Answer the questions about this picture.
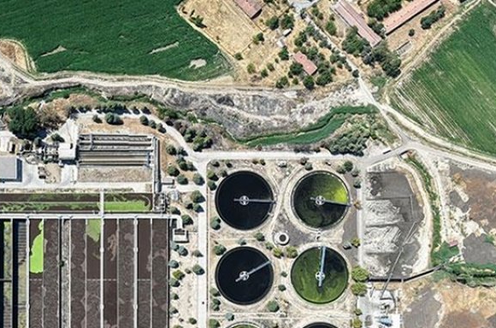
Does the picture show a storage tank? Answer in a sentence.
Yes, the picture does show a storage tank.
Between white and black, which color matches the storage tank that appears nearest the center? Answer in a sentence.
In this view, the storage tank that appears nearest the center is black.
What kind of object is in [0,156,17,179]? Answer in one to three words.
building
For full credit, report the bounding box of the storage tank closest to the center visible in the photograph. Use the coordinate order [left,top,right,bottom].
[215,171,278,230]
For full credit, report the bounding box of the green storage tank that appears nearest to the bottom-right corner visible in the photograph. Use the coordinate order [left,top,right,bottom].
[291,245,350,303]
